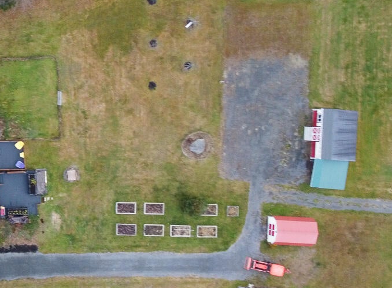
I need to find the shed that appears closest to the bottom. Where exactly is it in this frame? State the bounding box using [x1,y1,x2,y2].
[268,215,319,246]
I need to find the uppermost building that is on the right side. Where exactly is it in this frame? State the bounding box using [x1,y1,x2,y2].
[303,109,361,165]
